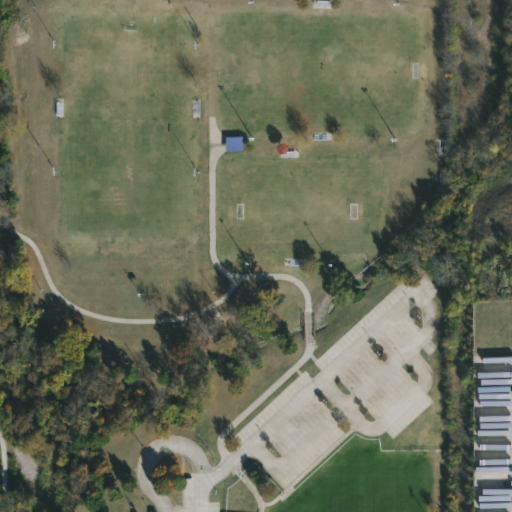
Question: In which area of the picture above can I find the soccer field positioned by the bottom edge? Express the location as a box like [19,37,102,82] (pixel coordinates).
[264,435,432,512]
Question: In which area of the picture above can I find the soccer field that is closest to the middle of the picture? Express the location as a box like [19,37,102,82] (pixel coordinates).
[217,157,386,256]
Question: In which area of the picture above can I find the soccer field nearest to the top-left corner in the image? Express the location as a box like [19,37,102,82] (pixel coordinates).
[60,22,196,236]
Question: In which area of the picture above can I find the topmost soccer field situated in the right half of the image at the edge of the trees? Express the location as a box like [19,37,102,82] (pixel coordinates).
[217,12,421,140]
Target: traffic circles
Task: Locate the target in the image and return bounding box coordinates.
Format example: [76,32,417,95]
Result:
[138,436,208,512]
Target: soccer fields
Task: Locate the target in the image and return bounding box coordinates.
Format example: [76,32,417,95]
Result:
[217,12,421,140]
[217,157,386,256]
[60,22,196,236]
[264,435,432,512]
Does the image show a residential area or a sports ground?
sports ground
